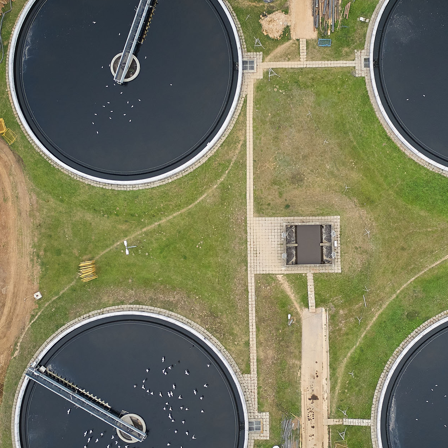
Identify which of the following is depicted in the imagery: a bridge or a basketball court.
bridge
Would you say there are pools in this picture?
No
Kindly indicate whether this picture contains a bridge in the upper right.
No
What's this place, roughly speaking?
industrial area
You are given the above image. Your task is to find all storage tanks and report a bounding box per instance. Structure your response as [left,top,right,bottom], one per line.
[377,316,448,448]
[369,0,448,172]
[8,0,243,184]
[15,311,249,448]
